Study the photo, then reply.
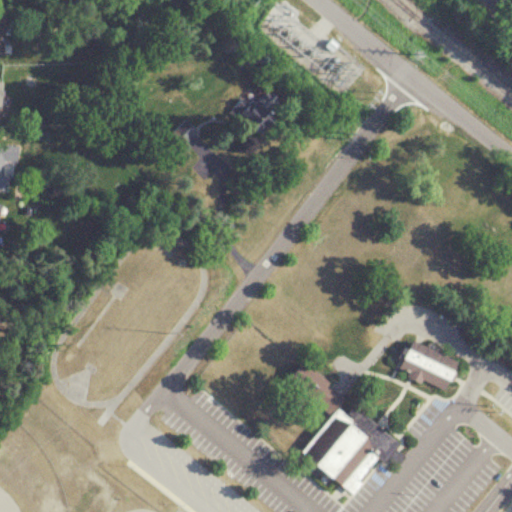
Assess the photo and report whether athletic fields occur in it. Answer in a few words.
Yes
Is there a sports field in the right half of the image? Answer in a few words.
No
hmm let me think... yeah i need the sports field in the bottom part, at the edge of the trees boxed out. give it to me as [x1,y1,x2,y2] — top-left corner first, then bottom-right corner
[52,238,206,426]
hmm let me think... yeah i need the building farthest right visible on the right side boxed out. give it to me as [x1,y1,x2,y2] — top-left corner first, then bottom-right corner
[402,342,460,390]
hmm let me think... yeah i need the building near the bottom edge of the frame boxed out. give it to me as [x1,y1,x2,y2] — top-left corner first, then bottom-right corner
[303,408,381,496]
